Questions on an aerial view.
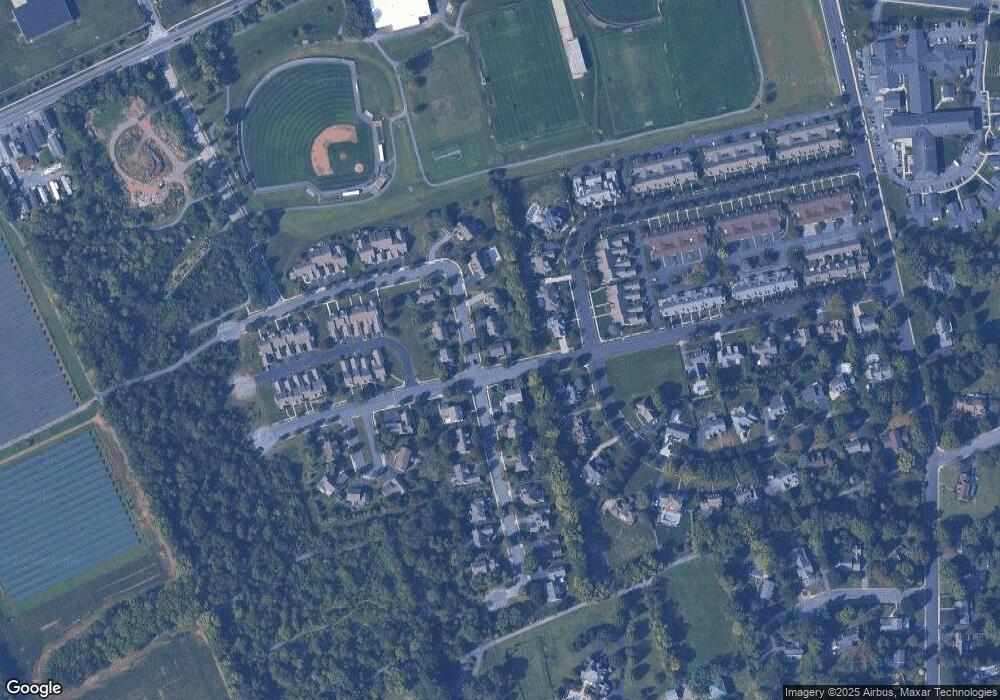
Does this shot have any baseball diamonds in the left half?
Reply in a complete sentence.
Yes, a baseball diamond appears in the left half.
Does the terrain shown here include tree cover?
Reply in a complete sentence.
Yes, some tree cover is visible.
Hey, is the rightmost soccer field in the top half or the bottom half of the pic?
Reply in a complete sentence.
Seen from above, the rightmost soccer field lies in the top half of the view.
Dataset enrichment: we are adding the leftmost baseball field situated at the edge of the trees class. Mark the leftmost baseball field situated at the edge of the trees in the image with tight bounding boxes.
[241,57,381,194]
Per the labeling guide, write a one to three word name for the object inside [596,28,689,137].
soccer field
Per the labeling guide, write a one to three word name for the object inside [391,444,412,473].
house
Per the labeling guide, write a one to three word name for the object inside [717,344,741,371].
house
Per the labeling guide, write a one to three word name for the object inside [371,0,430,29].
building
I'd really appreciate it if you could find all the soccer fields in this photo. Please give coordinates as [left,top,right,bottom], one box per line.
[468,0,590,154]
[662,0,758,117]
[596,28,689,137]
